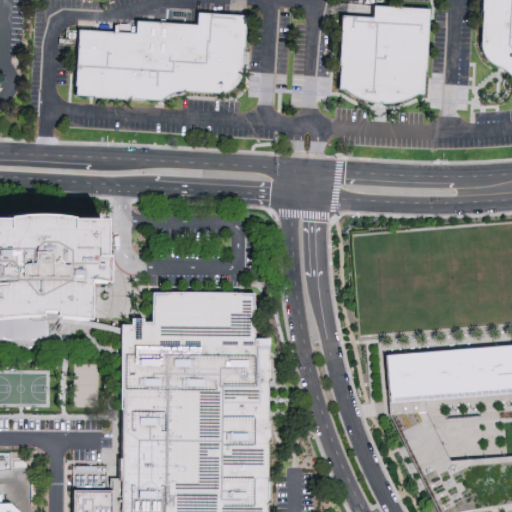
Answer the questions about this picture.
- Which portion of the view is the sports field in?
right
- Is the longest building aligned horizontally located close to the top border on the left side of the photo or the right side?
left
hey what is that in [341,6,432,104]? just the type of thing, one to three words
building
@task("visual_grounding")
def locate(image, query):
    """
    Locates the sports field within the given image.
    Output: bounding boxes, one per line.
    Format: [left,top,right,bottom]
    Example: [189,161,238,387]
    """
[353,224,512,336]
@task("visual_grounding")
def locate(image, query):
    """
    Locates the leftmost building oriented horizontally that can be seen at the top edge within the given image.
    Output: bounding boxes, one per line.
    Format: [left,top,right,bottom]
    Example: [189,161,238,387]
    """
[76,12,247,101]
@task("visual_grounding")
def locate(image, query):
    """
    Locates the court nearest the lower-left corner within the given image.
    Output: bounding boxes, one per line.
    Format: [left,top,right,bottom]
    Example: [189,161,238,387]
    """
[0,370,50,406]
